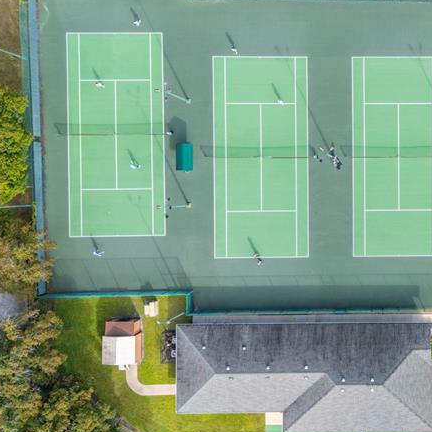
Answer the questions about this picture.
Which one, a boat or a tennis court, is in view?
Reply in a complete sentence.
Looking from above, you can make out a tennis court.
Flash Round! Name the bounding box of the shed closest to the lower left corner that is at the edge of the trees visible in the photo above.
[102,320,144,370]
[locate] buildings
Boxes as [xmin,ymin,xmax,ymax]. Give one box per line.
[102,320,144,370]
[176,310,432,432]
